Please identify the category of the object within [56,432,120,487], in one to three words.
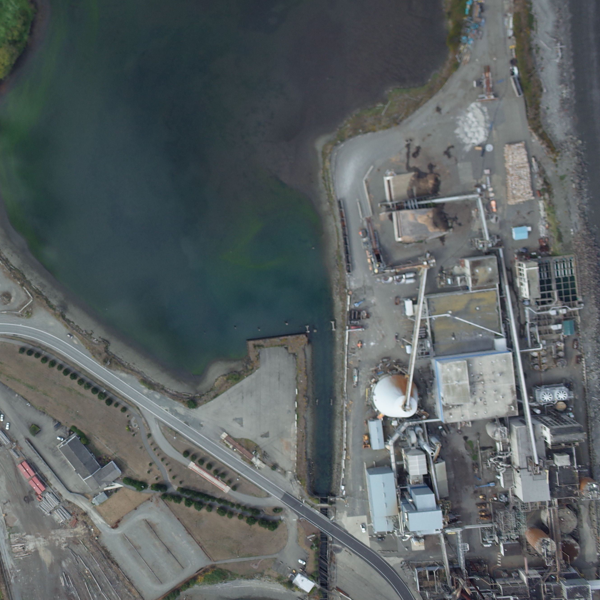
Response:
building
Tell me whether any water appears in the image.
Yes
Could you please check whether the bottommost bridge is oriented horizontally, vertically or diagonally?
diagonally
